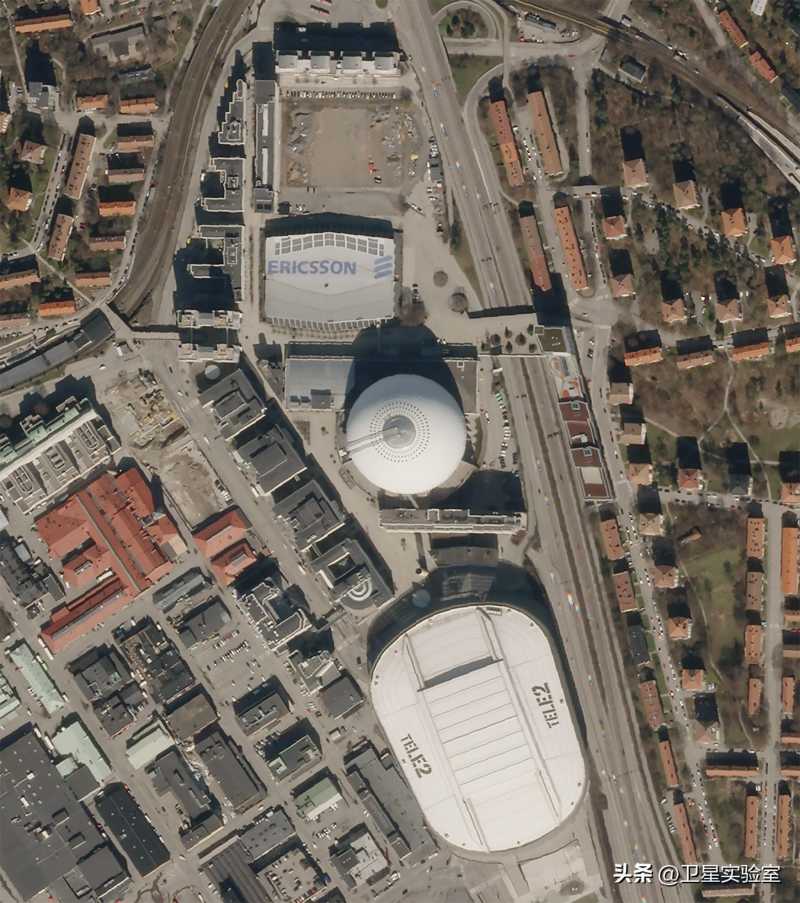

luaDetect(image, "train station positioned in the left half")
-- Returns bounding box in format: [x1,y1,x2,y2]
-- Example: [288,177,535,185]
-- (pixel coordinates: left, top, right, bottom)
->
[0,308,114,388]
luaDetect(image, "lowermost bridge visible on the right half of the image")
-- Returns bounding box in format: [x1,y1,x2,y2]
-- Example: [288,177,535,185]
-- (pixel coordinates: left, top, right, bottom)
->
[468,310,544,356]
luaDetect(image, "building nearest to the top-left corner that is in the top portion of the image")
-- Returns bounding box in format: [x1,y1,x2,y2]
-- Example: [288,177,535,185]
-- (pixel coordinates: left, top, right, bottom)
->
[16,15,73,33]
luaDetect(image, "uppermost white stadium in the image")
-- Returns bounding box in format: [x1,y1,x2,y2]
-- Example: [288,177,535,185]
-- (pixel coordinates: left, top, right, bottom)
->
[345,375,466,495]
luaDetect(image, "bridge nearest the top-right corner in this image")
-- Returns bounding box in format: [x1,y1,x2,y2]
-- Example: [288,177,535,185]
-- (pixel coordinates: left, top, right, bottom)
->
[565,183,624,198]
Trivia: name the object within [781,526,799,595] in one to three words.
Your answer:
building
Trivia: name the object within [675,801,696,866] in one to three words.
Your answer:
building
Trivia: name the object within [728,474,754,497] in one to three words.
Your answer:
house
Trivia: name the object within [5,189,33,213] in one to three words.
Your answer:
house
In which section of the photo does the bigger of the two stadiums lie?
bottom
